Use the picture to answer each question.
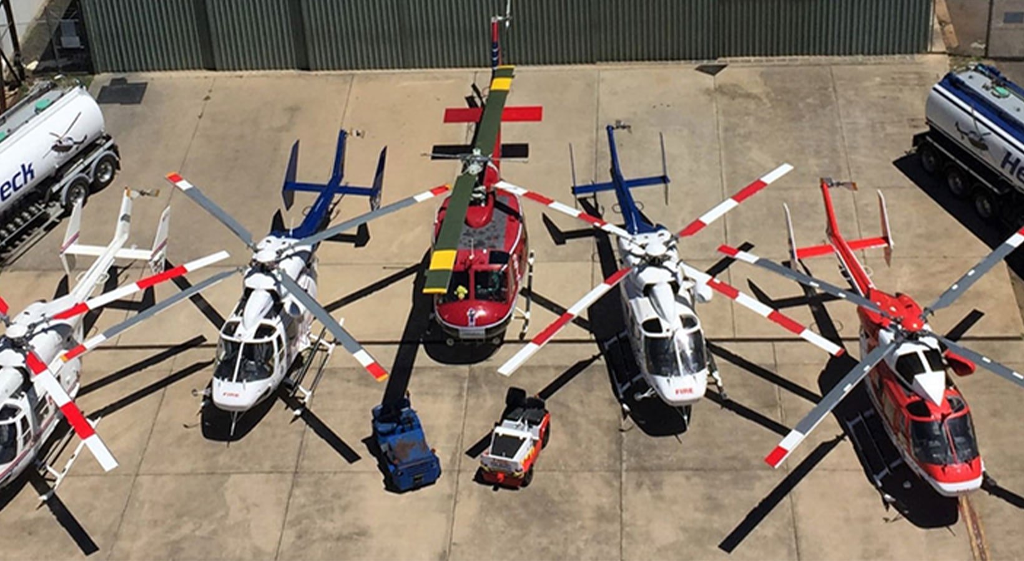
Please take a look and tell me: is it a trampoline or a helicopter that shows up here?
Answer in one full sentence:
Looking from above, you can make out a helicopter.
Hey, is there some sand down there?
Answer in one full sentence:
No, there is no sand in the image.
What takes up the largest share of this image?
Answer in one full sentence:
For the most part, this view shows paved ground.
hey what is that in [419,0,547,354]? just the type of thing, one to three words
helicopter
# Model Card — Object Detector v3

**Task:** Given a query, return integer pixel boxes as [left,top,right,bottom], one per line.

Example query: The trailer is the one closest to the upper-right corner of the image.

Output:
[898,59,1024,222]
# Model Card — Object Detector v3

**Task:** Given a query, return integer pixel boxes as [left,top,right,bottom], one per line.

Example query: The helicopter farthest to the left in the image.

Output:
[0,183,229,497]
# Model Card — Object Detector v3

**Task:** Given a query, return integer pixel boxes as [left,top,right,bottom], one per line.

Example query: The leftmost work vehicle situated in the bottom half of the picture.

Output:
[371,387,435,491]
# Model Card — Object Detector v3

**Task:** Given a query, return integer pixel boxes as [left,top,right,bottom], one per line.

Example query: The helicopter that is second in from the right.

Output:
[495,117,844,440]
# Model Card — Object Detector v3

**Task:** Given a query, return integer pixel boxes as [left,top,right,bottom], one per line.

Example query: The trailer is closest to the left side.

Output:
[0,76,136,256]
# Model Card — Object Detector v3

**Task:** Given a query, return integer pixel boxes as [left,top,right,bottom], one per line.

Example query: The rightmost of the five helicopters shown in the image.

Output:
[720,176,1024,499]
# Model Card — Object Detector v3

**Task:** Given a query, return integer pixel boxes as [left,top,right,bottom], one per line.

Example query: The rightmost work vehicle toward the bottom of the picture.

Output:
[478,389,549,496]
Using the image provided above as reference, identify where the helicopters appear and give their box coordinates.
[495,117,844,440]
[720,176,1024,499]
[0,183,229,497]
[419,0,547,354]
[62,123,451,445]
